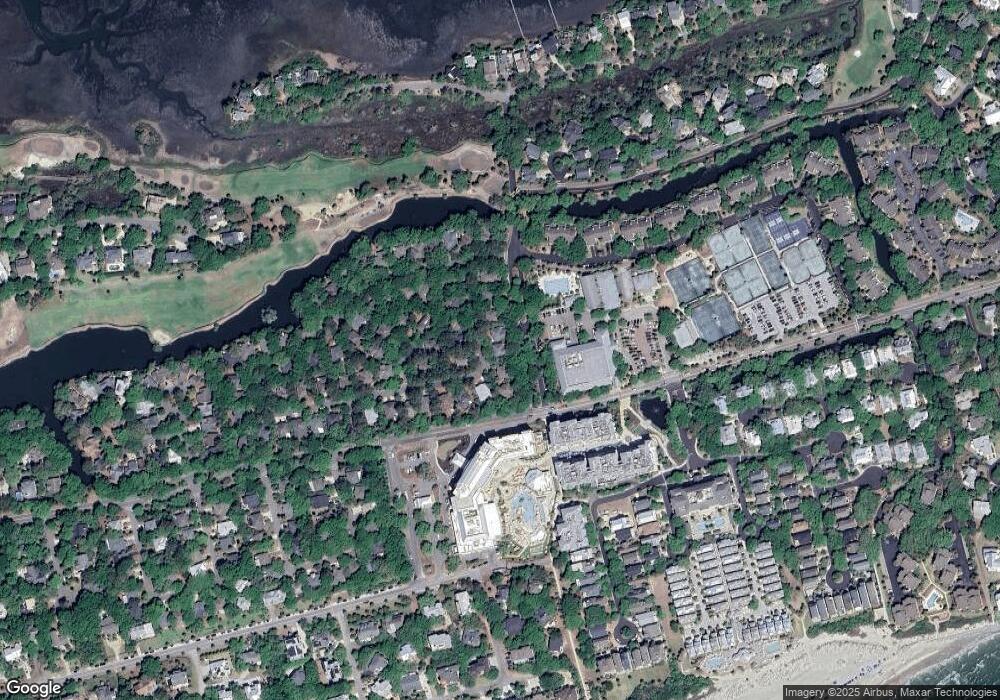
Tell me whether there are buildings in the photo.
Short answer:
Yes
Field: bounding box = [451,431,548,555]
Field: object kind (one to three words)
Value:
building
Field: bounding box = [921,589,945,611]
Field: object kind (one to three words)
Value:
swimming pool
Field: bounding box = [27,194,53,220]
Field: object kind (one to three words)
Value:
house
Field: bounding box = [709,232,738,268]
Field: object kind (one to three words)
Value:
tennis court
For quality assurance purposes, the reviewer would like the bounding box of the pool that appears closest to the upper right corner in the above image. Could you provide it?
[955,208,979,231]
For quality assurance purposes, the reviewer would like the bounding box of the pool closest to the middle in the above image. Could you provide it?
[543,276,569,295]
